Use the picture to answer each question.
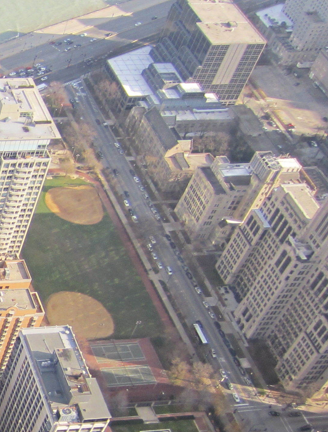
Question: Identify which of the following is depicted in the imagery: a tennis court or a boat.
tennis court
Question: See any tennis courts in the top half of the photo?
No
